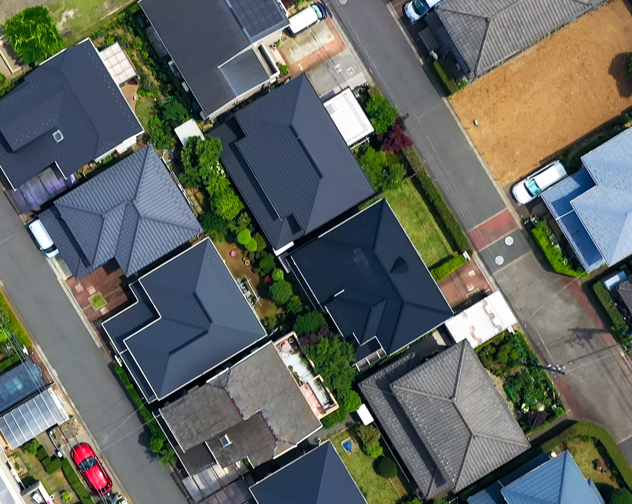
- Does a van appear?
Yes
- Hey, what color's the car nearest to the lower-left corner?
red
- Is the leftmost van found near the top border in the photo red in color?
No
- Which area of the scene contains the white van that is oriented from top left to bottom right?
left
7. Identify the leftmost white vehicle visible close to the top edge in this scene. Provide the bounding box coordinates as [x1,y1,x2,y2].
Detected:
[284,0,331,38]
